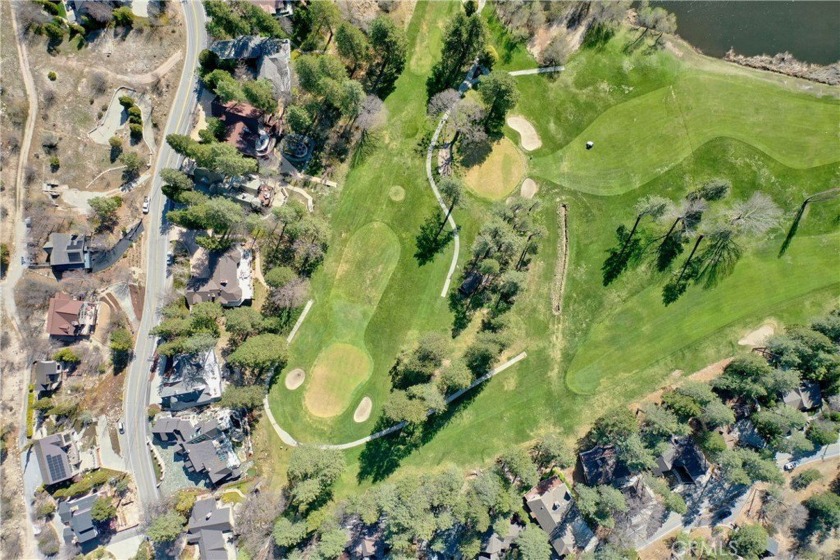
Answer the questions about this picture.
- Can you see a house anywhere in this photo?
Yes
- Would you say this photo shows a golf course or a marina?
golf course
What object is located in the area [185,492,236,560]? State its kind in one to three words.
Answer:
house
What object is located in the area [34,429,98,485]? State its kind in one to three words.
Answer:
house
